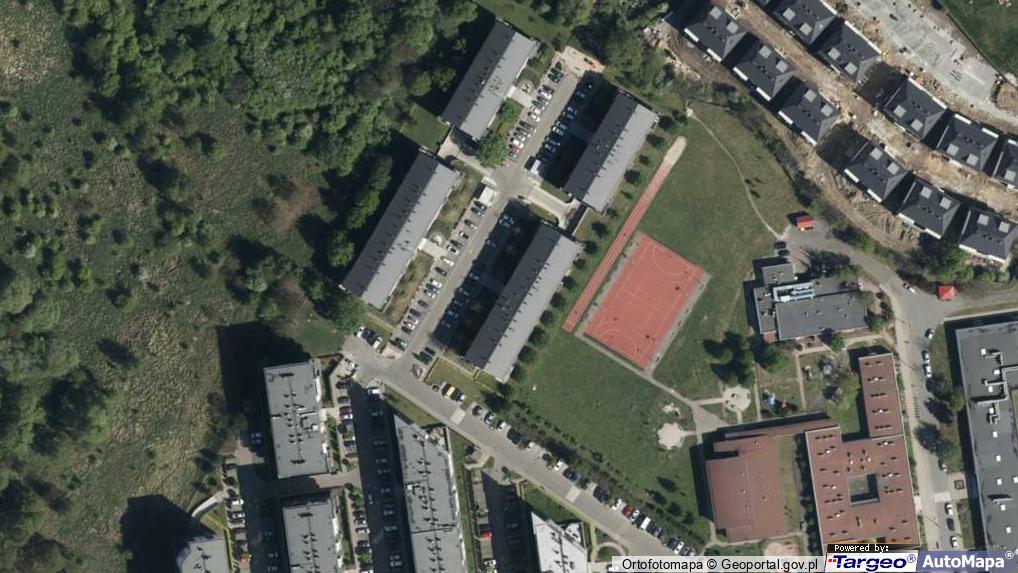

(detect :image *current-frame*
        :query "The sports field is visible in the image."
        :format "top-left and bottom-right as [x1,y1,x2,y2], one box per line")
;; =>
[502,104,784,535]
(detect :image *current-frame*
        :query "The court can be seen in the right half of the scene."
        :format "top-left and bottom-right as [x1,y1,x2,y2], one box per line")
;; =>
[576,231,709,377]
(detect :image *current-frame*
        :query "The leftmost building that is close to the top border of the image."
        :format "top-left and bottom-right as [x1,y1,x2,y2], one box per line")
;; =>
[441,18,536,142]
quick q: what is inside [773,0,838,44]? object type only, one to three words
house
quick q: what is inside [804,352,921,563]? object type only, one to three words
building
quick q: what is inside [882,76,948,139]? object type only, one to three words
house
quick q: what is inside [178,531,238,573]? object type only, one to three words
building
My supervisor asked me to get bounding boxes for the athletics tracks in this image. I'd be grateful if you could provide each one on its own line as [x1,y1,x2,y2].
[563,135,686,332]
